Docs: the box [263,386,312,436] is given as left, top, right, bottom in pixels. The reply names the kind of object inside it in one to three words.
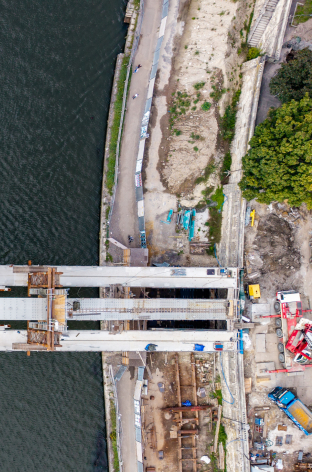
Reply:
truck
